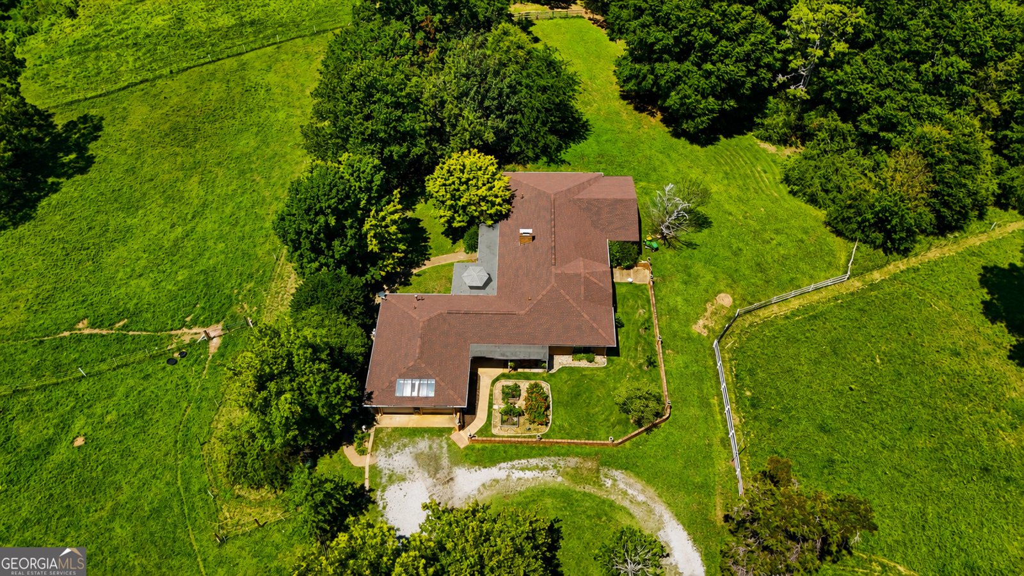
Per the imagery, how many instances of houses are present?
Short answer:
1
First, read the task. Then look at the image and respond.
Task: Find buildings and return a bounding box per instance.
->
[365,171,641,419]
